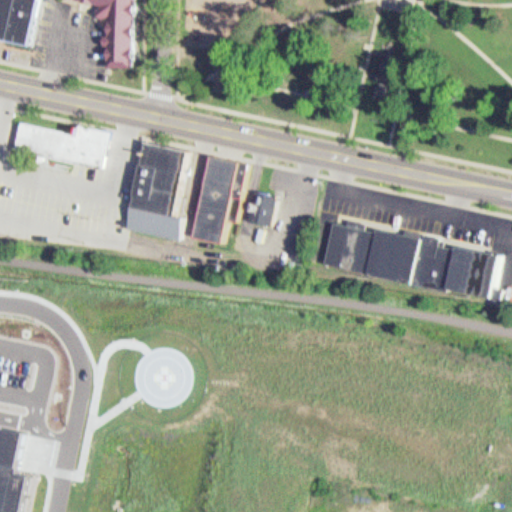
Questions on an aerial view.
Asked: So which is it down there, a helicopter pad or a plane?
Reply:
helicopter pad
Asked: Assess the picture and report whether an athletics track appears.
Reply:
No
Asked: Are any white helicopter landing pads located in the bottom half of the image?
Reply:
Yes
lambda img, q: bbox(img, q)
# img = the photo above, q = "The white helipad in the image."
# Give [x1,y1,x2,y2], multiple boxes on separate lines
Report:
[136,349,194,407]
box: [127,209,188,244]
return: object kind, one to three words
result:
shed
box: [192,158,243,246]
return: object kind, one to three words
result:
building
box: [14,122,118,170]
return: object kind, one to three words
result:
building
